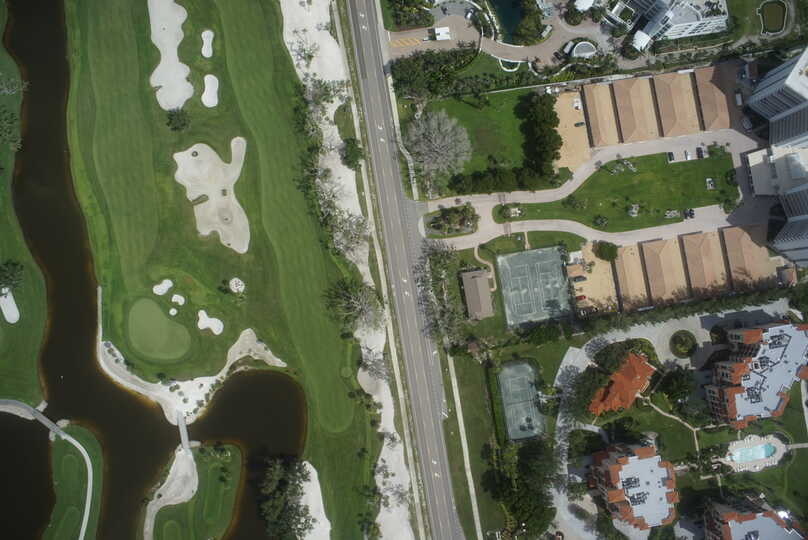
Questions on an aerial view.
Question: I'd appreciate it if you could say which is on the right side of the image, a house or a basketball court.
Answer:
house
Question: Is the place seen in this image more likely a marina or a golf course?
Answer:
golf course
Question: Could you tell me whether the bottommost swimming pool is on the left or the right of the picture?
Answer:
right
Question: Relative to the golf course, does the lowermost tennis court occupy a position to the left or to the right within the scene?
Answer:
to its right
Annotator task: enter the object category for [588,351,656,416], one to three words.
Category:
house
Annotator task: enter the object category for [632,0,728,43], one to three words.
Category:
building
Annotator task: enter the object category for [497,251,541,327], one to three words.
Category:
tennis court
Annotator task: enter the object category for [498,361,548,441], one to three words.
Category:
tennis court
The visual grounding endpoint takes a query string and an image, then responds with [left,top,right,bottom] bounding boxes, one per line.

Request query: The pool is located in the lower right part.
[717,435,788,472]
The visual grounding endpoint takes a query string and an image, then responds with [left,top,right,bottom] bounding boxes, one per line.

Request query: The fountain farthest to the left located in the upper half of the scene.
[574,41,597,58]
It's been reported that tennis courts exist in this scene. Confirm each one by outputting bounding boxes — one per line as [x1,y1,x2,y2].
[529,246,573,319]
[498,361,548,441]
[497,251,541,327]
